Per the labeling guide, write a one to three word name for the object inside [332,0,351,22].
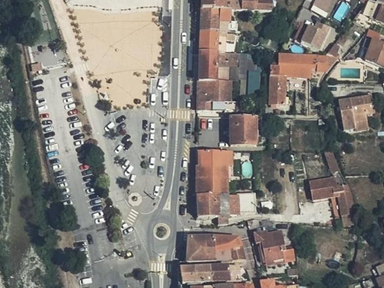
swimming pool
